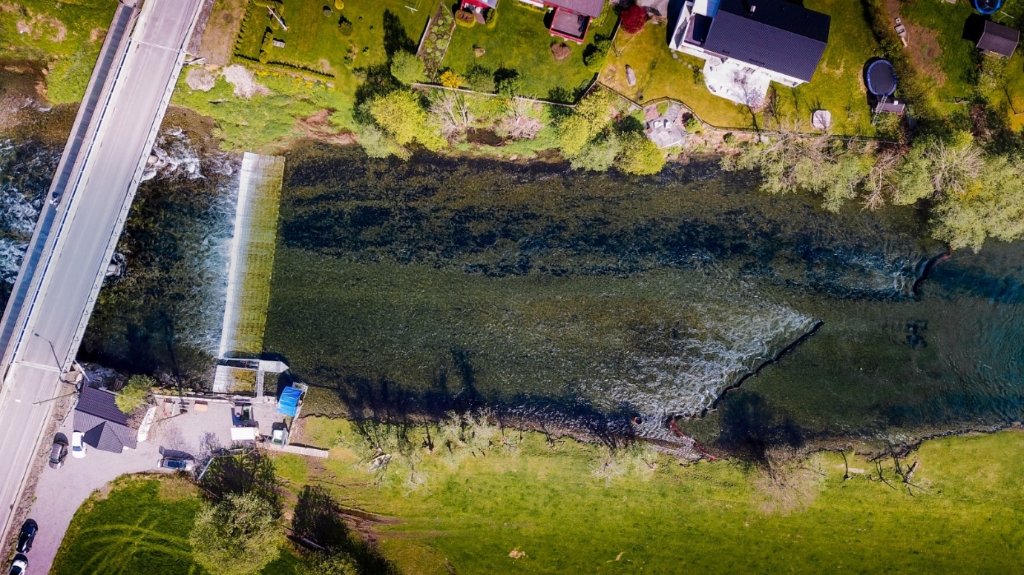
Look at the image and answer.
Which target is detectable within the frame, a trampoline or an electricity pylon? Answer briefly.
trampoline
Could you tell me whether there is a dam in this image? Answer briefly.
Yes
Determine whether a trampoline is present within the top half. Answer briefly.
Yes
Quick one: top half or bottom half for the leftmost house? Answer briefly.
bottom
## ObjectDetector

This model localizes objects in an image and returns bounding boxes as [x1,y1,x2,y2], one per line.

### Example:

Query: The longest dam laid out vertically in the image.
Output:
[217,152,289,359]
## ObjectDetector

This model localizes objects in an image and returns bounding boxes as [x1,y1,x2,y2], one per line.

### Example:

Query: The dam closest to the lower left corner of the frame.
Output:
[212,364,261,395]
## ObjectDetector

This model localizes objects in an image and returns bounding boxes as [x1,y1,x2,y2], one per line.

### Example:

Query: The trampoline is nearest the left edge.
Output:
[865,59,896,96]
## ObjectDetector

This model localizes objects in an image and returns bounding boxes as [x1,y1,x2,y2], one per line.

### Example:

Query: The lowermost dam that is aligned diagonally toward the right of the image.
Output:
[667,318,825,424]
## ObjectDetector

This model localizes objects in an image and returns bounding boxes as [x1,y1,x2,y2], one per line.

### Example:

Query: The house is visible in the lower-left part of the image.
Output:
[73,386,148,454]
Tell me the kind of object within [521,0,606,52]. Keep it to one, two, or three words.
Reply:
house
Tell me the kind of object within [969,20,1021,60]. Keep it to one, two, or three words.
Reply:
shed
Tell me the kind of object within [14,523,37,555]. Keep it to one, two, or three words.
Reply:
car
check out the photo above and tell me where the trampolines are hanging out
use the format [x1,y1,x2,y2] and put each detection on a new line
[865,59,896,96]
[969,0,1002,17]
